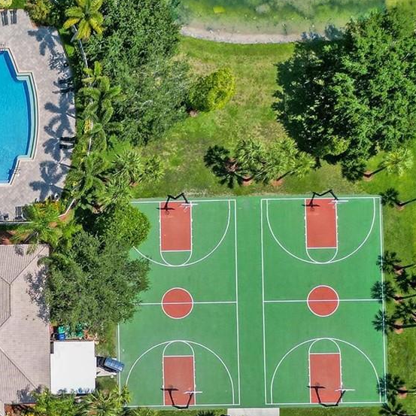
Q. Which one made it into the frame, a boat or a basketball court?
basketball court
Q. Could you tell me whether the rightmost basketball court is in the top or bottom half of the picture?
bottom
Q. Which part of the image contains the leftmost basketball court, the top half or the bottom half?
bottom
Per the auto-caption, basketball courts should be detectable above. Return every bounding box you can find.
[110,196,251,409]
[247,194,388,408]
